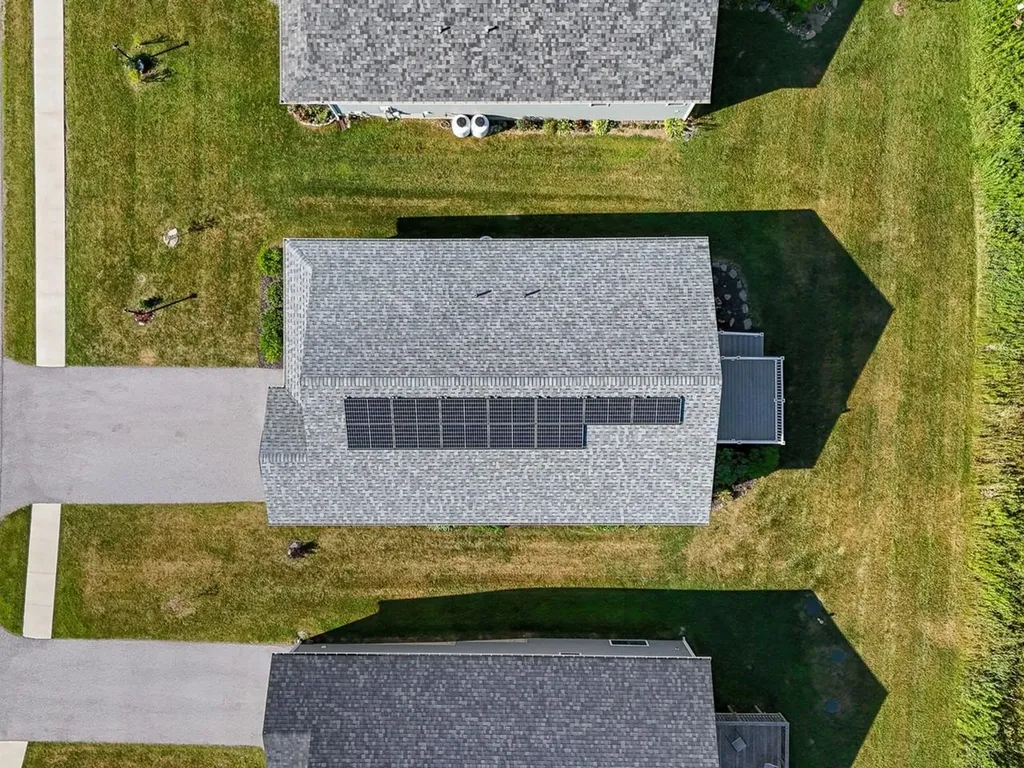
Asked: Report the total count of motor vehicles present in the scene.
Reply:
0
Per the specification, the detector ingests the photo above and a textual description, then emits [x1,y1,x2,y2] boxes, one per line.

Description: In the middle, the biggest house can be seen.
[260,234,722,526]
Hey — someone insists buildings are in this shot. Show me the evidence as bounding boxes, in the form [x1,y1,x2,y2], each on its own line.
[279,0,719,128]
[262,633,718,768]
[260,234,722,526]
